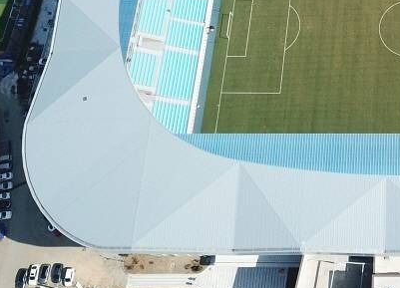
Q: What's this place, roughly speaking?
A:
sports ground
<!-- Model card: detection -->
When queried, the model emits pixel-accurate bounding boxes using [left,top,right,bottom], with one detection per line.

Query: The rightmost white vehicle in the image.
[61,266,73,287]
